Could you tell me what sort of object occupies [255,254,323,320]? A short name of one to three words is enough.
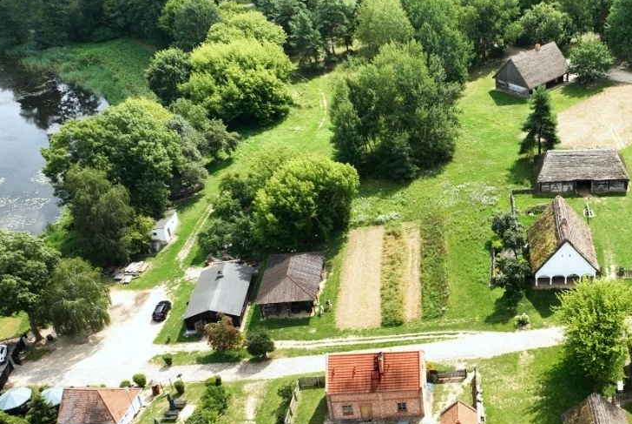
building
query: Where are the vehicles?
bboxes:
[148,300,173,320]
[0,342,13,359]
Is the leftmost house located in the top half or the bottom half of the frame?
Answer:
bottom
